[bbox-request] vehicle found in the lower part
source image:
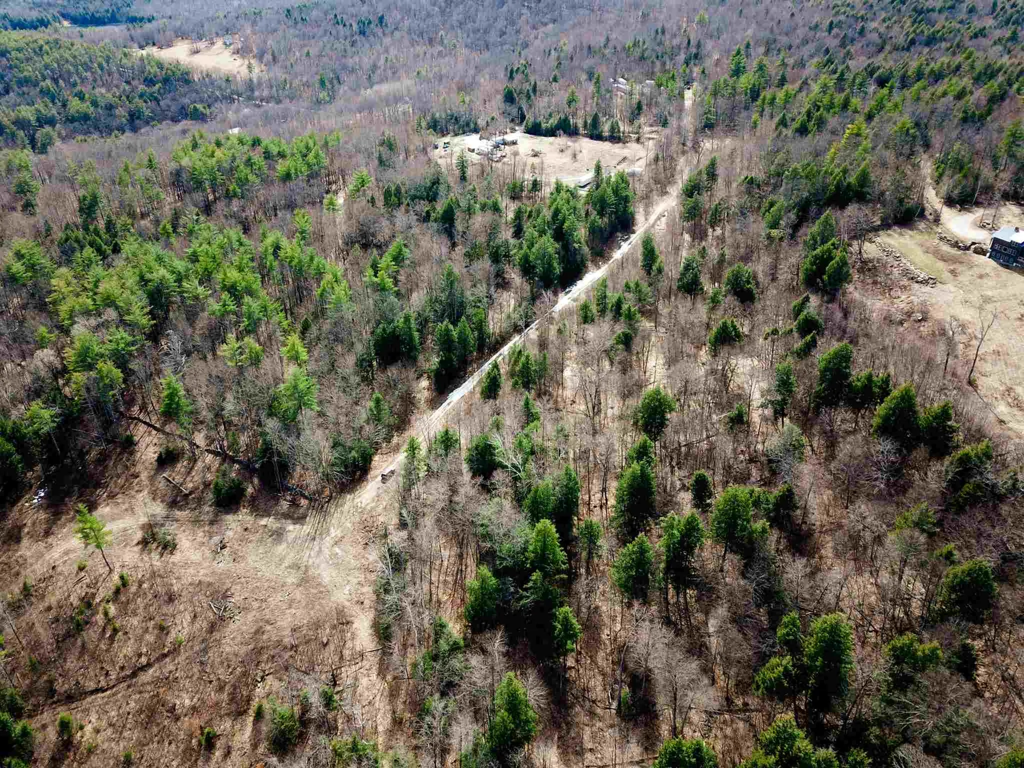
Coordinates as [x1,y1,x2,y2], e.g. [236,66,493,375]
[382,462,399,477]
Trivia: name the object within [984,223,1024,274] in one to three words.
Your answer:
house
